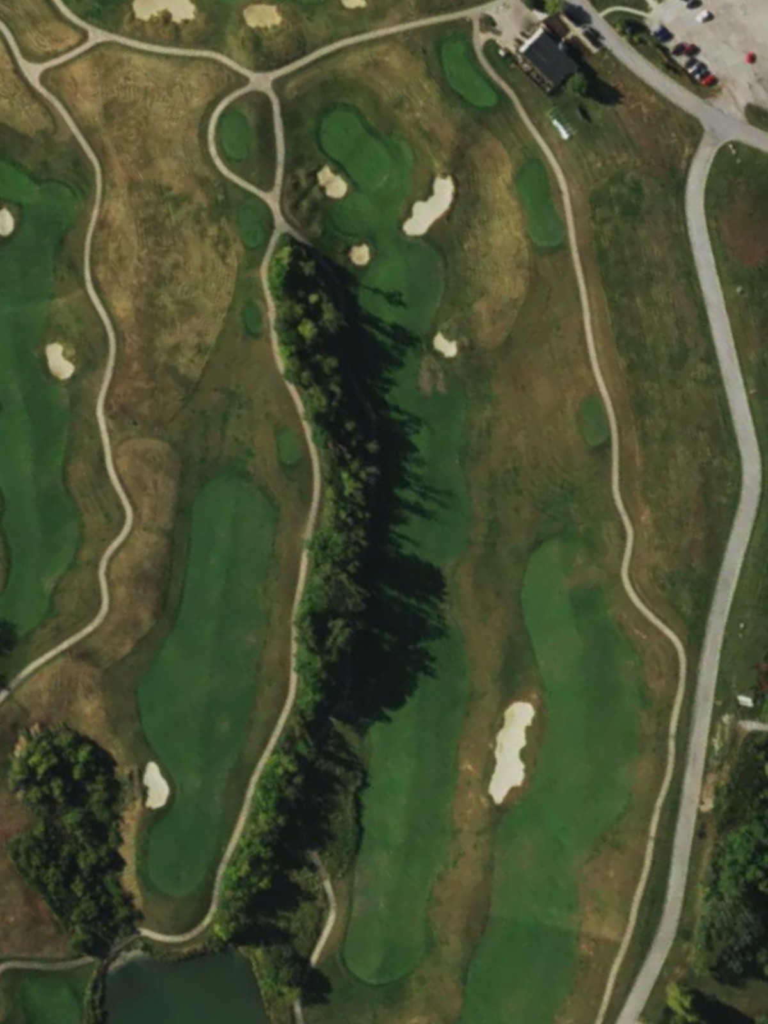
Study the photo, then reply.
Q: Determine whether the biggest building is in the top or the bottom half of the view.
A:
top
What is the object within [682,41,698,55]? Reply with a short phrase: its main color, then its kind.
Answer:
red car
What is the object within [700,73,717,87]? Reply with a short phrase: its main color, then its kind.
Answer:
red car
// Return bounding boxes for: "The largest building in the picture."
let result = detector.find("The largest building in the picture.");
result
[516,23,581,95]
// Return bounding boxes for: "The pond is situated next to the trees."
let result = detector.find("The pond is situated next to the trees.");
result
[101,944,266,1024]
